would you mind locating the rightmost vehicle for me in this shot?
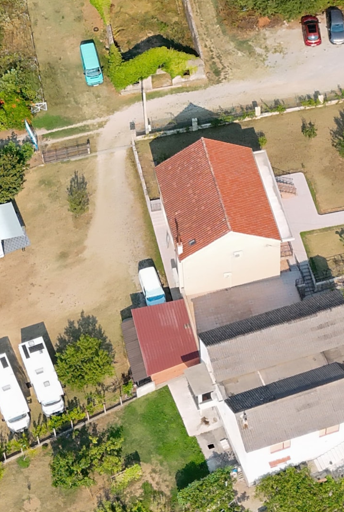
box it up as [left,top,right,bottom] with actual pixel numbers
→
[325,9,344,46]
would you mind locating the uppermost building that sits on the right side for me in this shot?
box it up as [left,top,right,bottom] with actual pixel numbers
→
[155,139,294,289]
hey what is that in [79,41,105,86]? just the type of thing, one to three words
vehicle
